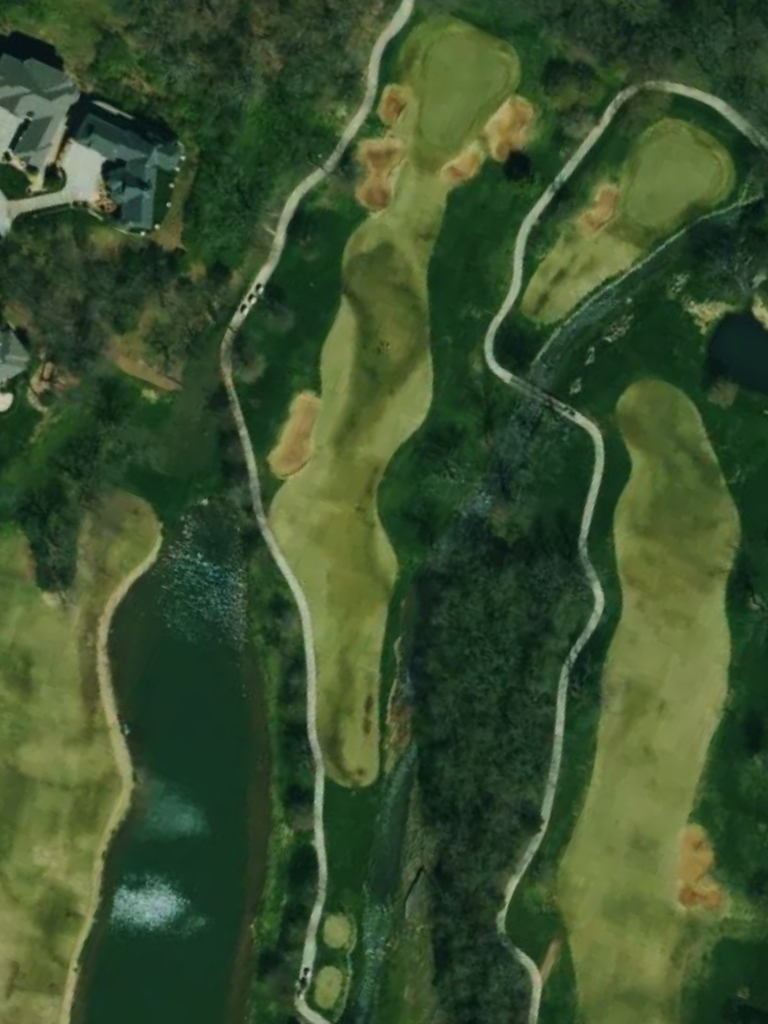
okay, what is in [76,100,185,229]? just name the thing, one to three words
house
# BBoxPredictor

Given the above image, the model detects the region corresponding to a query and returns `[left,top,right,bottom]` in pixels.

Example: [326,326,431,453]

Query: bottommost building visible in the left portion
[0,331,29,391]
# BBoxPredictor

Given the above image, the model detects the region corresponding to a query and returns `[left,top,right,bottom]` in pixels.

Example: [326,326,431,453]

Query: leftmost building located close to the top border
[0,48,87,169]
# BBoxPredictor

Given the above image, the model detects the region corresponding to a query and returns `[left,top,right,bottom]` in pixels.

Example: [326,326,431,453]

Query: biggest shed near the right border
[710,379,736,405]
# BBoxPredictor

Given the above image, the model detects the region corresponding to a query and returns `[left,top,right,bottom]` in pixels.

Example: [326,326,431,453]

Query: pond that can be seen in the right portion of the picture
[705,308,768,393]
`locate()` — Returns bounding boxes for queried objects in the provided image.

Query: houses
[76,100,185,229]
[0,48,87,169]
[0,331,29,391]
